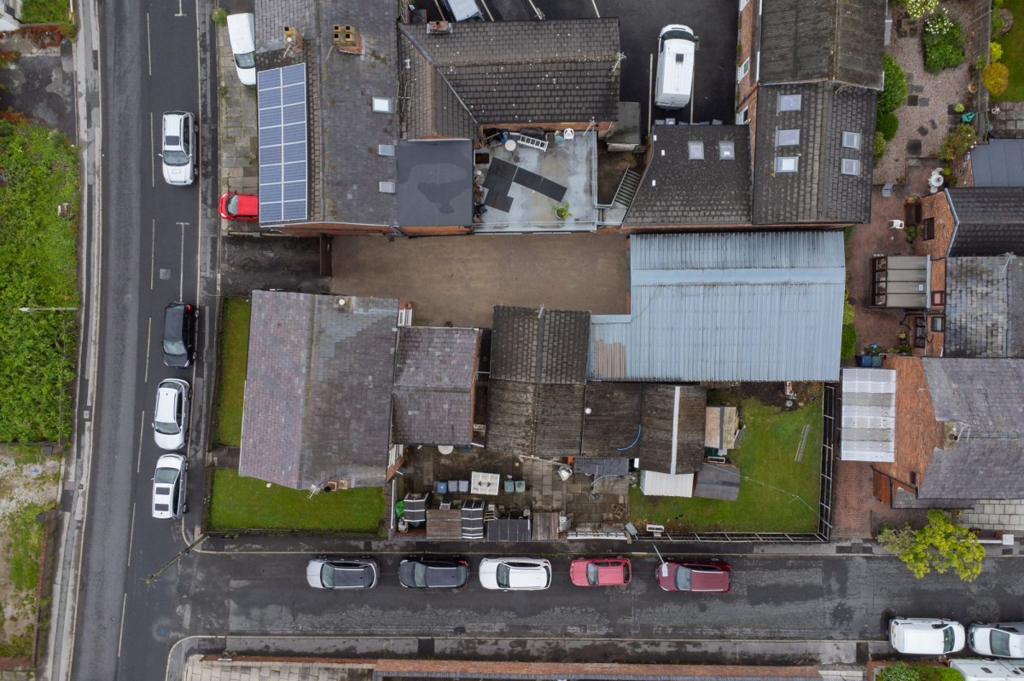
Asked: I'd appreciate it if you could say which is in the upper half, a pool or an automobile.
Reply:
automobile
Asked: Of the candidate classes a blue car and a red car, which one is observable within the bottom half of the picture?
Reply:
red car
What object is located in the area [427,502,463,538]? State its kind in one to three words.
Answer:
shed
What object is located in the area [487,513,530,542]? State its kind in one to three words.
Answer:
shed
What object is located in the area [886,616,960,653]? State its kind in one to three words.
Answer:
van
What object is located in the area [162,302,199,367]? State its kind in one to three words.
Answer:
car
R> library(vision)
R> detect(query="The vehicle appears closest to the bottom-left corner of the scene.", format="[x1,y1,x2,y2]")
[152,453,189,518]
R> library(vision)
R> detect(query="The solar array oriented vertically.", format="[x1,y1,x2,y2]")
[256,61,307,225]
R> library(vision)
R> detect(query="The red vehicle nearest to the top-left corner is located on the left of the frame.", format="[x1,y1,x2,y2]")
[219,190,257,221]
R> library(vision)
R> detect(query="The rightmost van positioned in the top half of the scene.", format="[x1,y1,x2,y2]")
[656,30,698,119]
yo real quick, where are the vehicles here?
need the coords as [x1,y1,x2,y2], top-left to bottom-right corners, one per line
[571,555,631,587]
[656,30,698,119]
[219,190,257,221]
[308,554,379,591]
[656,556,730,593]
[162,302,199,367]
[886,616,960,653]
[446,0,485,21]
[481,555,551,590]
[153,379,191,449]
[400,553,468,589]
[954,659,1024,681]
[963,619,1024,658]
[161,111,201,186]
[222,5,255,89]
[152,453,189,518]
